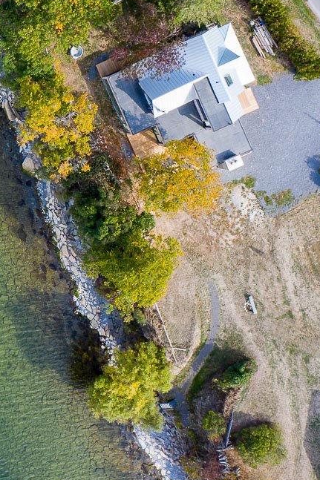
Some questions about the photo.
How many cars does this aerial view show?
0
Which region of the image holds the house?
top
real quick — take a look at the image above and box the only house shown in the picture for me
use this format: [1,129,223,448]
[95,23,260,172]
